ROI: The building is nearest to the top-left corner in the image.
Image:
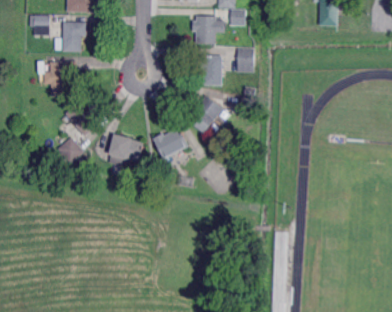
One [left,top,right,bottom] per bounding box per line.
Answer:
[29,16,48,35]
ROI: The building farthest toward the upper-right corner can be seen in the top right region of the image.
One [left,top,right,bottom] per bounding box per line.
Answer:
[318,0,338,26]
